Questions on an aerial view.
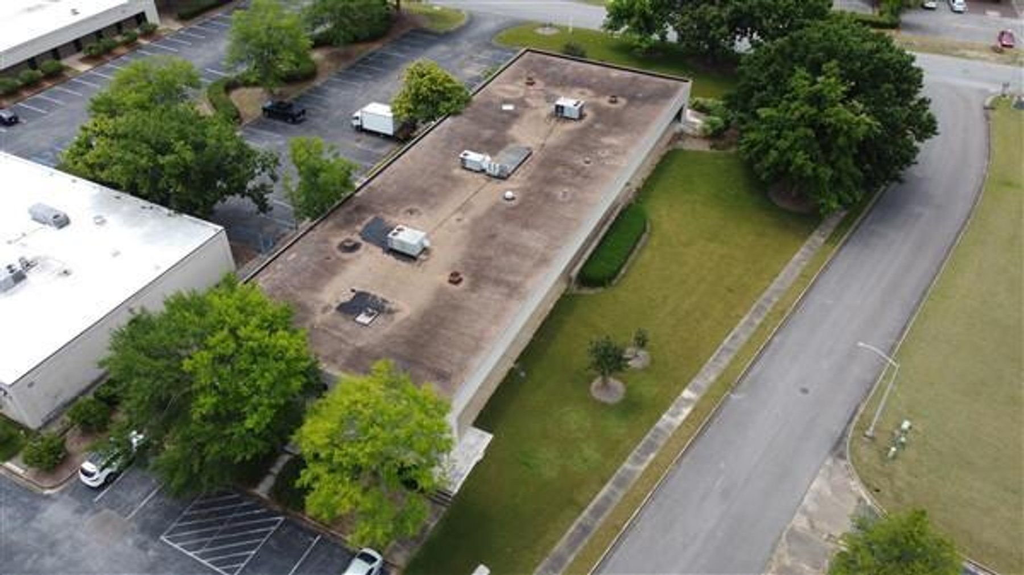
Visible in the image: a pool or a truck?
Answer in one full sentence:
The image shows a truck.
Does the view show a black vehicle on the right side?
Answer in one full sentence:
No, on the right side there is no black vehicle.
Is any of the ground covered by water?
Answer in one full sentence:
No, there's no water in this view.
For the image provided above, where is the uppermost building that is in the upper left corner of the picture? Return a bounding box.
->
[0,0,160,82]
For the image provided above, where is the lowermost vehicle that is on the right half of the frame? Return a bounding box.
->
[998,28,1018,47]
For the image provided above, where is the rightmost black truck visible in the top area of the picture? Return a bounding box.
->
[264,95,312,120]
